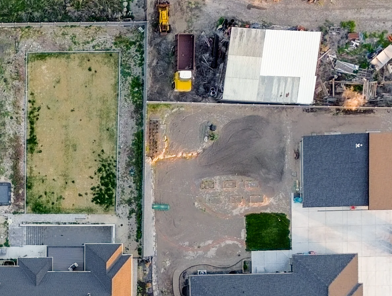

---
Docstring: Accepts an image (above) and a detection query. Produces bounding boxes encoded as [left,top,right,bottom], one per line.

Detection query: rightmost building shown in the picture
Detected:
[291,132,392,211]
